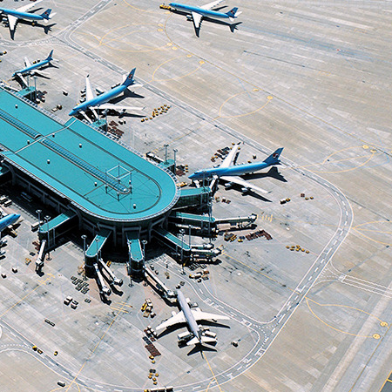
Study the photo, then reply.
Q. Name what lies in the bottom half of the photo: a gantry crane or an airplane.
airplane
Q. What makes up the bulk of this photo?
paved ground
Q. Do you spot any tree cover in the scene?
No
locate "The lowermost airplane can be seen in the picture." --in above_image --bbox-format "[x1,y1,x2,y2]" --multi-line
[155,290,229,343]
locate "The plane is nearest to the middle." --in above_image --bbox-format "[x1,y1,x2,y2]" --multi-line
[189,140,285,191]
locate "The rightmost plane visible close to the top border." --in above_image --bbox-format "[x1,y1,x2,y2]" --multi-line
[169,0,241,27]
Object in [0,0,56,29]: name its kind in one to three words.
airplane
